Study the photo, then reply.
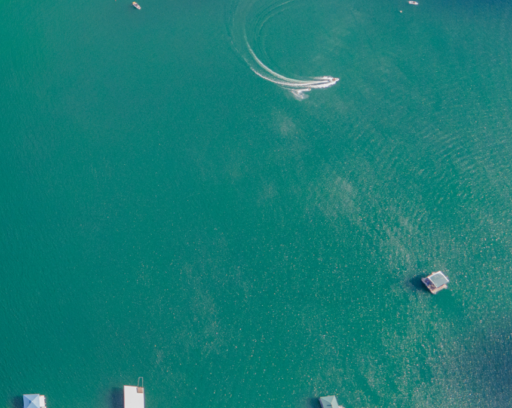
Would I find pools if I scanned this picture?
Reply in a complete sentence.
No, I can't see a single pool in this photo.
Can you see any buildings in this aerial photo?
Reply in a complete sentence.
No, the photo shows no building.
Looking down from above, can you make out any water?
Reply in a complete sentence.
Yes, there is water in the image.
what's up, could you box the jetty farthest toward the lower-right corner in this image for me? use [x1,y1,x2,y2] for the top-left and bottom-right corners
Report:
[419,272,449,296]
